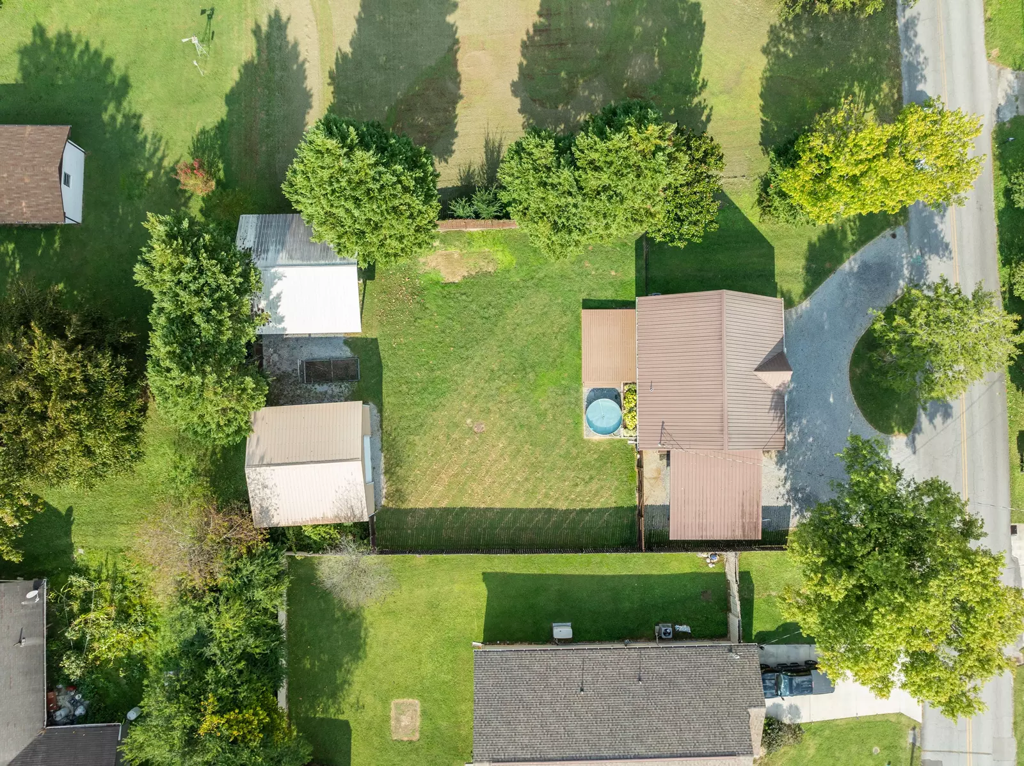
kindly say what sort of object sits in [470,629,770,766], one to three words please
house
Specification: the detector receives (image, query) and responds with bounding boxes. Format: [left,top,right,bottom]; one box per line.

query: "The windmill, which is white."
[179,29,213,60]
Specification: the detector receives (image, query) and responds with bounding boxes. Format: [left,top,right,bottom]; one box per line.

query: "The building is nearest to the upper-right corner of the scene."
[632,290,794,450]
